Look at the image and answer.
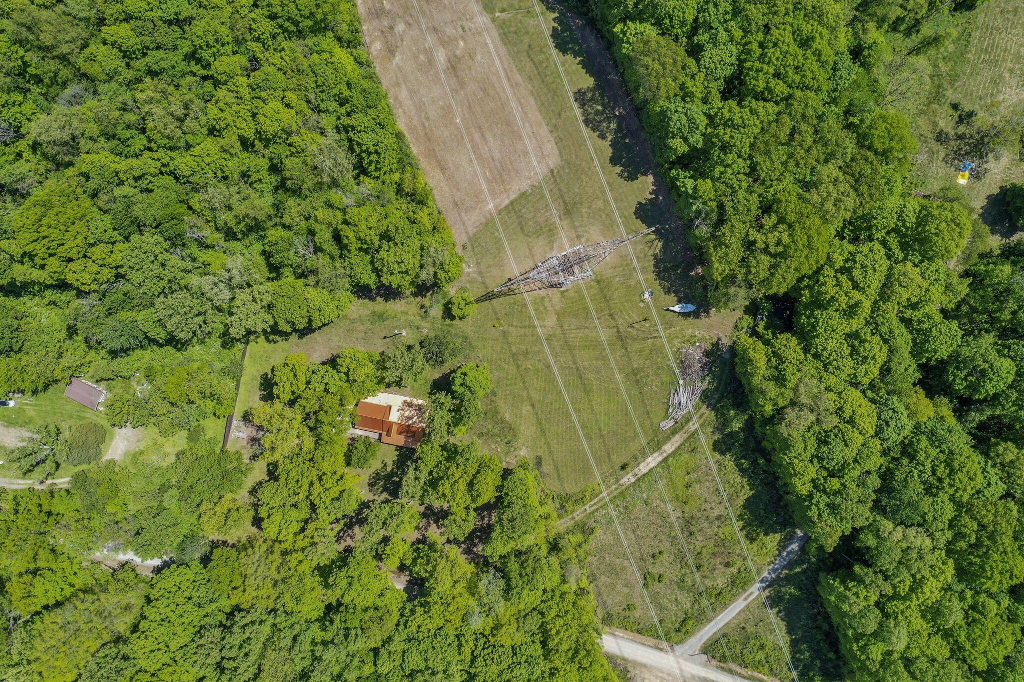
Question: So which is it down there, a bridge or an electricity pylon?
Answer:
electricity pylon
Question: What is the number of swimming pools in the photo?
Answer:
zero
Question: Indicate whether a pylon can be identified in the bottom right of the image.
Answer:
No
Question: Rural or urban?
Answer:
rural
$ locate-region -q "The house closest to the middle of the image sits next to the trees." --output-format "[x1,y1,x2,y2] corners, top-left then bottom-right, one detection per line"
[354,392,428,449]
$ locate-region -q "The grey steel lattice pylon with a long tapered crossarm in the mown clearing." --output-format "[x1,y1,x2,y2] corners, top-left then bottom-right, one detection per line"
[493,228,656,293]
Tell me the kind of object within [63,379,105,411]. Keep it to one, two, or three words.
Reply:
building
